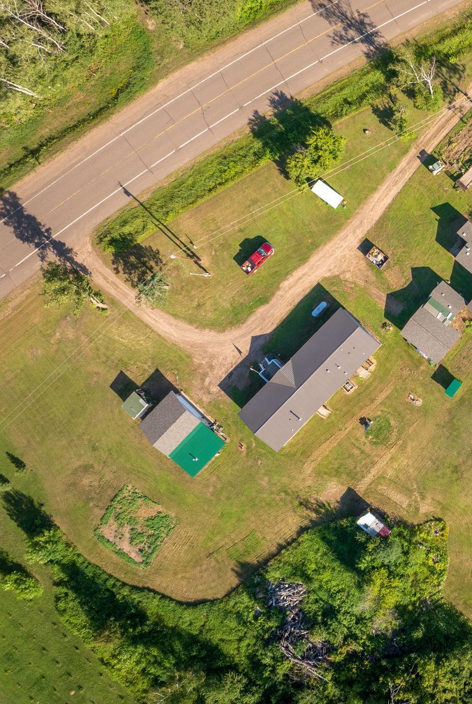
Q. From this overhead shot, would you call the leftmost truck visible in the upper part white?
No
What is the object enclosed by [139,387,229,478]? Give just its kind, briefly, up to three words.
building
